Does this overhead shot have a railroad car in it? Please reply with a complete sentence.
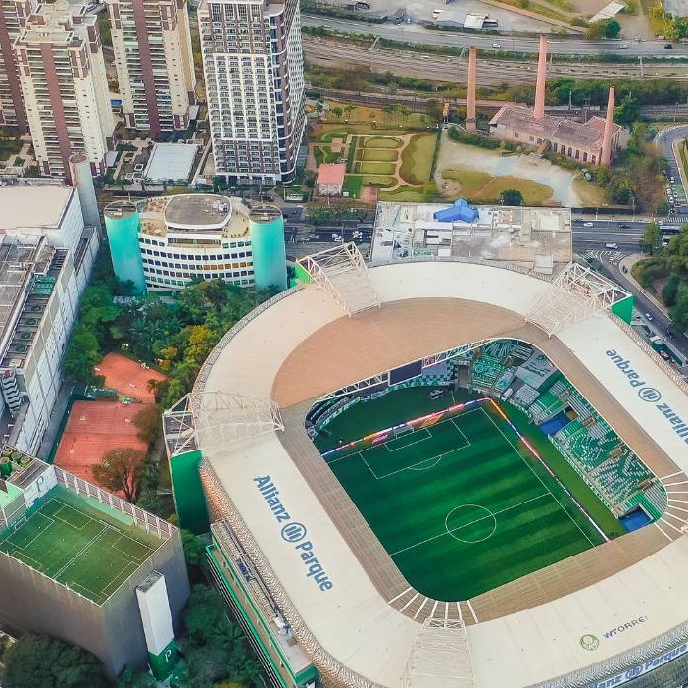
No, the photo shows no railroad car.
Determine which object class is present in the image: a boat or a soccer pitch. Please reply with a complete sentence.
Looking from above, you can make out a soccer pitch.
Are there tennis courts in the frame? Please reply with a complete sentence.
Yes, I can see a tennis court in this picture.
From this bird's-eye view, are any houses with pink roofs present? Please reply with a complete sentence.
Yes, I can see a house with a pink roof in this picture.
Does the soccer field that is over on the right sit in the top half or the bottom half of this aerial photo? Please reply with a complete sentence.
The soccer field that is over on the right sits in the bottom half of the picture.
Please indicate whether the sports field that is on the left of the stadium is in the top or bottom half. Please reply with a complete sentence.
Seen from above, the sports field that is on the left of the stadium lies in the bottom half of the view.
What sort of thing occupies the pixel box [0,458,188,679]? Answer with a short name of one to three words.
building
